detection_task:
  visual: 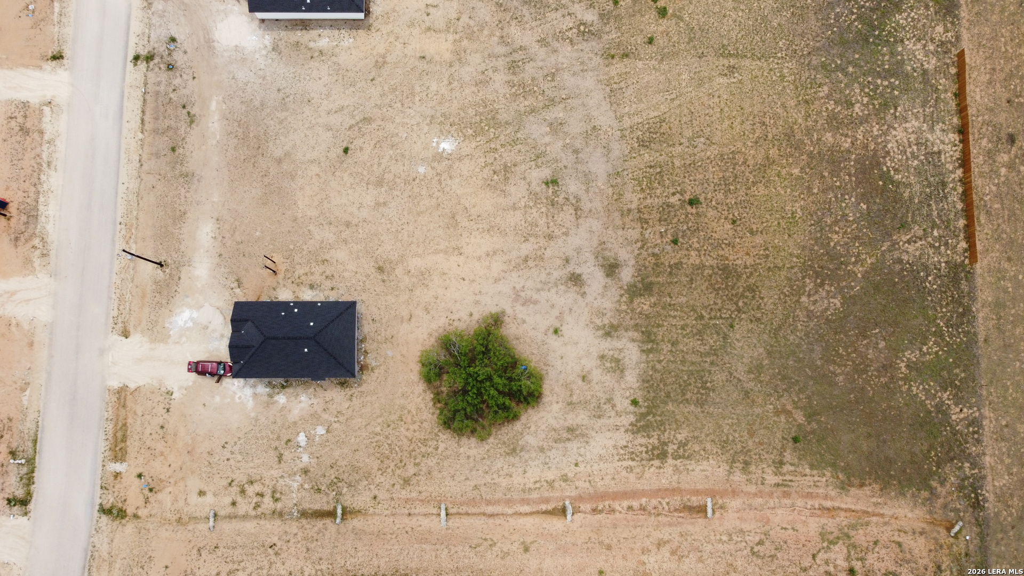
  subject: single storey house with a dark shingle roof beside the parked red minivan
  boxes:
[228,301,358,381]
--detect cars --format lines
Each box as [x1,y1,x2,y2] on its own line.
[182,359,232,384]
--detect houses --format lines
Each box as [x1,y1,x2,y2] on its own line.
[248,0,365,20]
[228,301,358,381]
